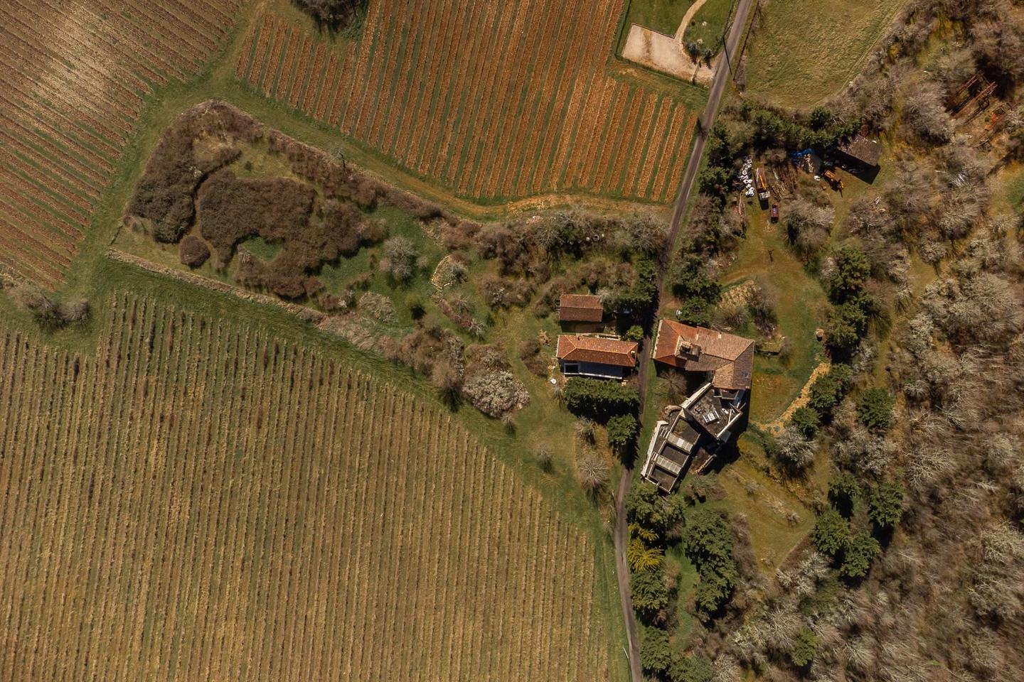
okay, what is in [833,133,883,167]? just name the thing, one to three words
barn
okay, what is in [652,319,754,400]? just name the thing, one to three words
house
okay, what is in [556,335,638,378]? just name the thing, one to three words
house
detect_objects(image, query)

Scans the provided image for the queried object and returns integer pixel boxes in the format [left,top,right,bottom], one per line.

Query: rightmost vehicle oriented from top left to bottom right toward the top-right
[822,166,845,190]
